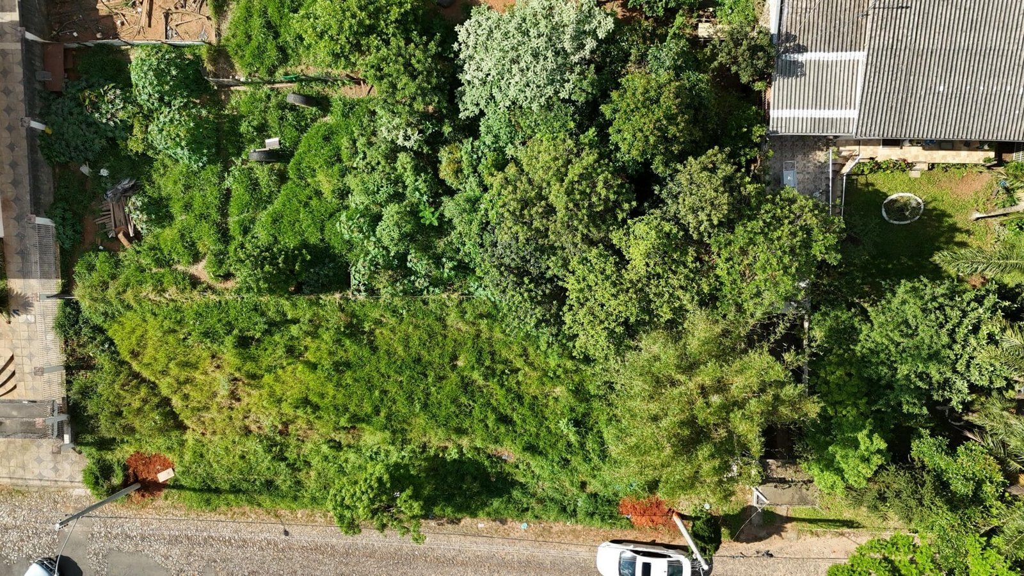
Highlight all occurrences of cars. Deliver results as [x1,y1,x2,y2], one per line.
[595,543,695,576]
[14,557,61,576]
